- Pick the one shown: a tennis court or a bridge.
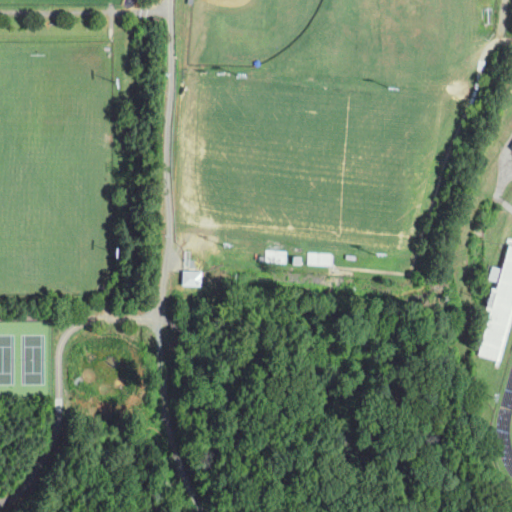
tennis court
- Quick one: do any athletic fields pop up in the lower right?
No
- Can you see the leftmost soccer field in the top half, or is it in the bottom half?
top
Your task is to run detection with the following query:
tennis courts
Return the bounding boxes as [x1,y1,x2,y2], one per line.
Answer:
[0,336,16,385]
[22,336,46,385]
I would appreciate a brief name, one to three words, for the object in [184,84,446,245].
sports field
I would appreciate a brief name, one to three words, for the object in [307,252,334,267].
shed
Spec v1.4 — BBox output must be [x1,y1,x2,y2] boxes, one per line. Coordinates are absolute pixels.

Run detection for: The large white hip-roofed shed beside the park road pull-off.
[182,271,204,288]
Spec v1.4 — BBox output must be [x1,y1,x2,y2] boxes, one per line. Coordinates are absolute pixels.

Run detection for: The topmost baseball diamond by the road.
[190,0,318,64]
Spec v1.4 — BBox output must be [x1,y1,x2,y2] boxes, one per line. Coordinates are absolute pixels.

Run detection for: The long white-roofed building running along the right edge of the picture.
[477,241,512,370]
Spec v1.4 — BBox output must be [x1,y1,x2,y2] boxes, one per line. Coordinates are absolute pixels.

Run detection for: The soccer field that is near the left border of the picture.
[0,43,110,294]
